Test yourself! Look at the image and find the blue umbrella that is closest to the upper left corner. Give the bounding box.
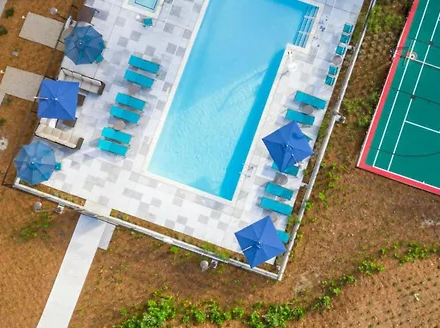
[66,26,105,65]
